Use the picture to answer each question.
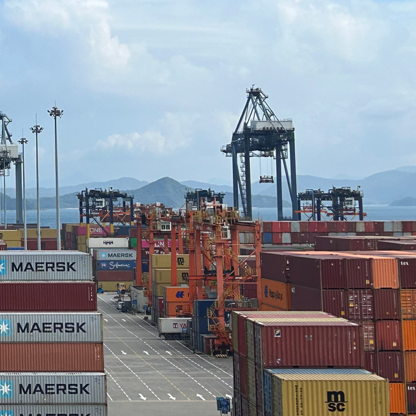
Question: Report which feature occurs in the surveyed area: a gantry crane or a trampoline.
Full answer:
Of the two, only a gantry crane appears.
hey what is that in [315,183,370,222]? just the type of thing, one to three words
container crane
